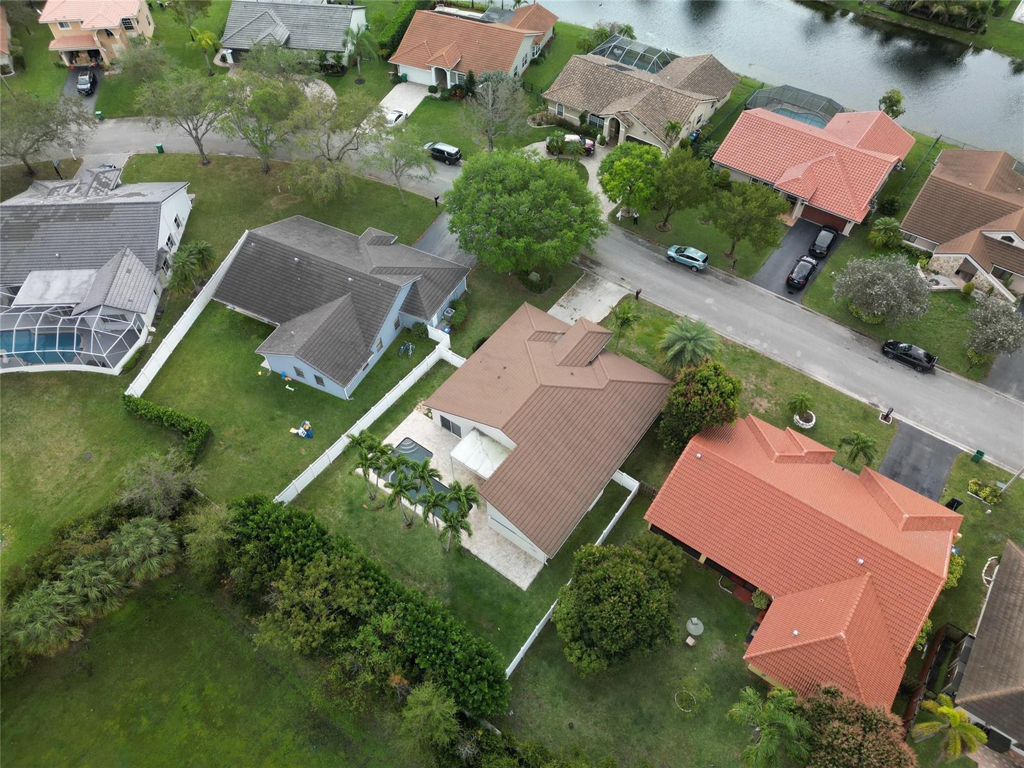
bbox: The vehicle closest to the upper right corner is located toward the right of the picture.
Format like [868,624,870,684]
[806,228,836,260]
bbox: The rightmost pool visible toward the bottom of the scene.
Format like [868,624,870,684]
[373,436,473,523]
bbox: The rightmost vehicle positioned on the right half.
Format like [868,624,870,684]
[881,341,942,374]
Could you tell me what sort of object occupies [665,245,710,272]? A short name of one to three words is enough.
car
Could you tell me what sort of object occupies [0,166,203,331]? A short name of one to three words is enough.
building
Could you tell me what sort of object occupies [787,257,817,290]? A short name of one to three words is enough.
car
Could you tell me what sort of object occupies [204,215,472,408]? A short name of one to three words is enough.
house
